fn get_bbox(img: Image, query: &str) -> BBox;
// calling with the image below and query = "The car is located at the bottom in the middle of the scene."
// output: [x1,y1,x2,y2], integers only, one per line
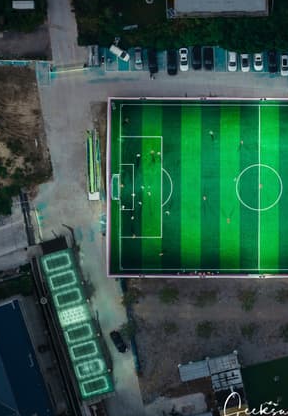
[109,330,127,354]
